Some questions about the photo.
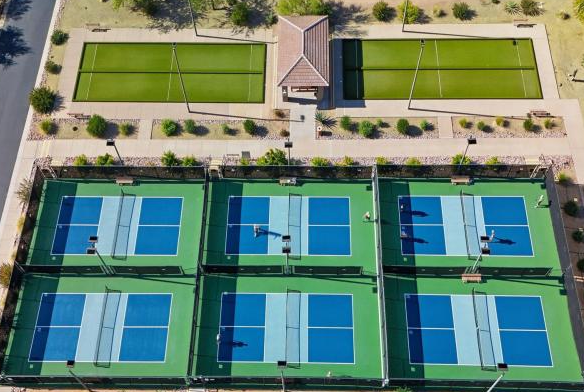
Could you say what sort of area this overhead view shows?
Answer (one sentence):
This looks like a sports ground.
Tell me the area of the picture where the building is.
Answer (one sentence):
Look in the top portion of the view to spot the building.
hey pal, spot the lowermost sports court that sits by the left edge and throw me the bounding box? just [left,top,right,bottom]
[0,273,200,390]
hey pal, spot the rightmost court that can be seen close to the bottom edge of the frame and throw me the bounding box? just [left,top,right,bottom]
[376,275,584,392]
